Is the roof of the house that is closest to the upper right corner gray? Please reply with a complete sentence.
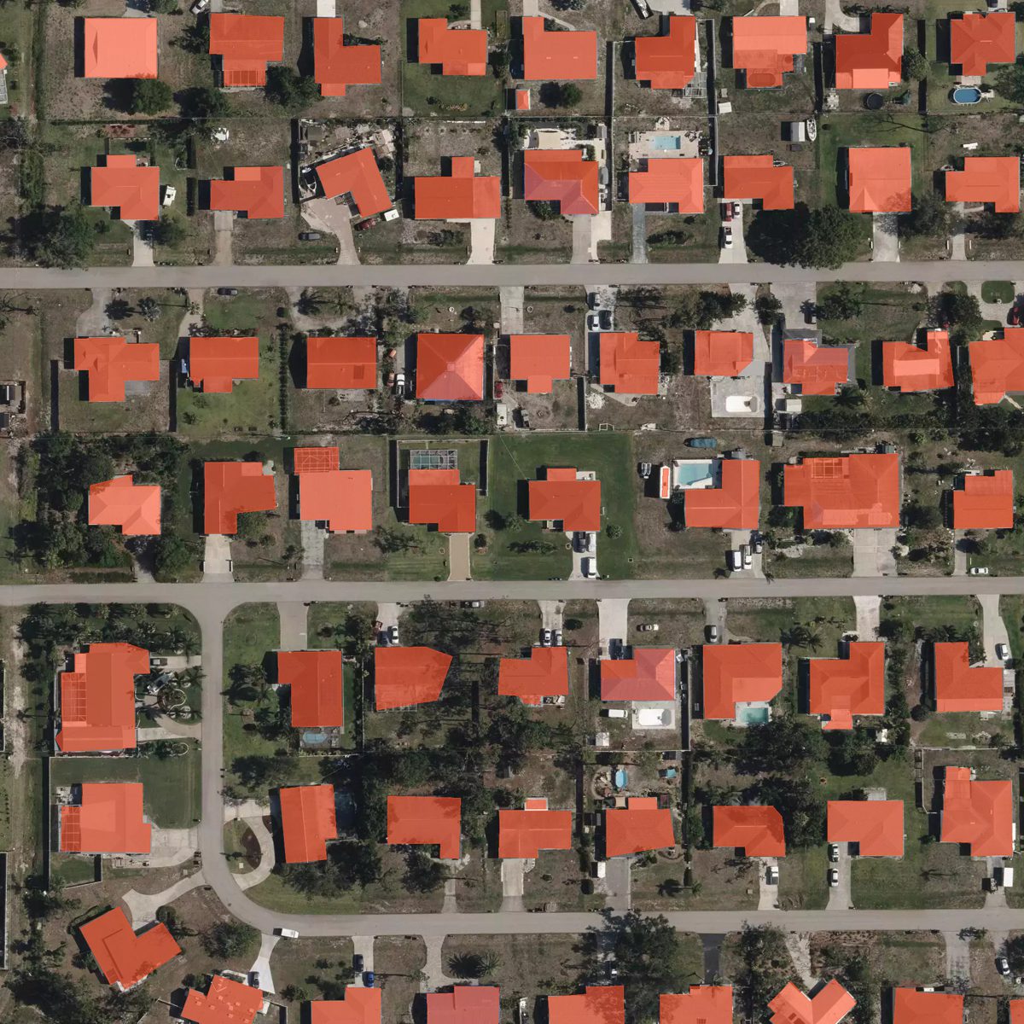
No, the roof of the house that is closest to the upper right corner is actually red.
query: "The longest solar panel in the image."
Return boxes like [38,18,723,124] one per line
[823,510,858,525]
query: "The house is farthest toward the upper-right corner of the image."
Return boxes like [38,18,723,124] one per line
[952,12,1016,74]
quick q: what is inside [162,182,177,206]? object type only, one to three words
camper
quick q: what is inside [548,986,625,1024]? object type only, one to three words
house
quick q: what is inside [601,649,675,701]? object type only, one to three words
house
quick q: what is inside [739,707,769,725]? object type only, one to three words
swimming pool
